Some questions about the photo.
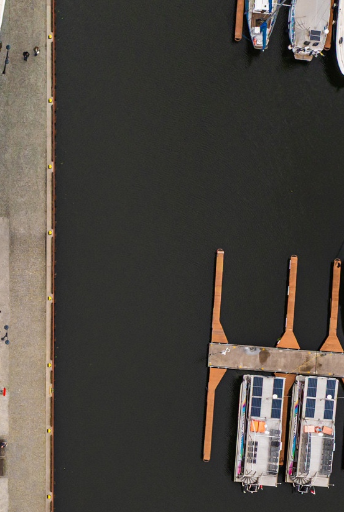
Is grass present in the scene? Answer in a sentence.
No, the picture contains no grass.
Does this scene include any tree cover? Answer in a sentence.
No, there is no tree cover in the image.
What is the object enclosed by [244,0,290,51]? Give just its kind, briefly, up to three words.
boat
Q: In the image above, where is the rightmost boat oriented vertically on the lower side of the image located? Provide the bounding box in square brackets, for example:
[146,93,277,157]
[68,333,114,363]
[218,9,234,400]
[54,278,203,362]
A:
[285,374,344,493]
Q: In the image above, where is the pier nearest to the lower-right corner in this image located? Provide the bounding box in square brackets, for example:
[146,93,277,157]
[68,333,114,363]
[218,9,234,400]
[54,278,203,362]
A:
[206,343,344,378]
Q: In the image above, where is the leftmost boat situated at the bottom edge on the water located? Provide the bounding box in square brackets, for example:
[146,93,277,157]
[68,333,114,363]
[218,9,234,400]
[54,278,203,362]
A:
[232,373,290,492]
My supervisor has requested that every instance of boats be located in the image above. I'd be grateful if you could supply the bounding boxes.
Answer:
[285,374,344,493]
[232,373,290,492]
[244,0,290,51]
[331,0,344,80]
[285,0,337,62]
